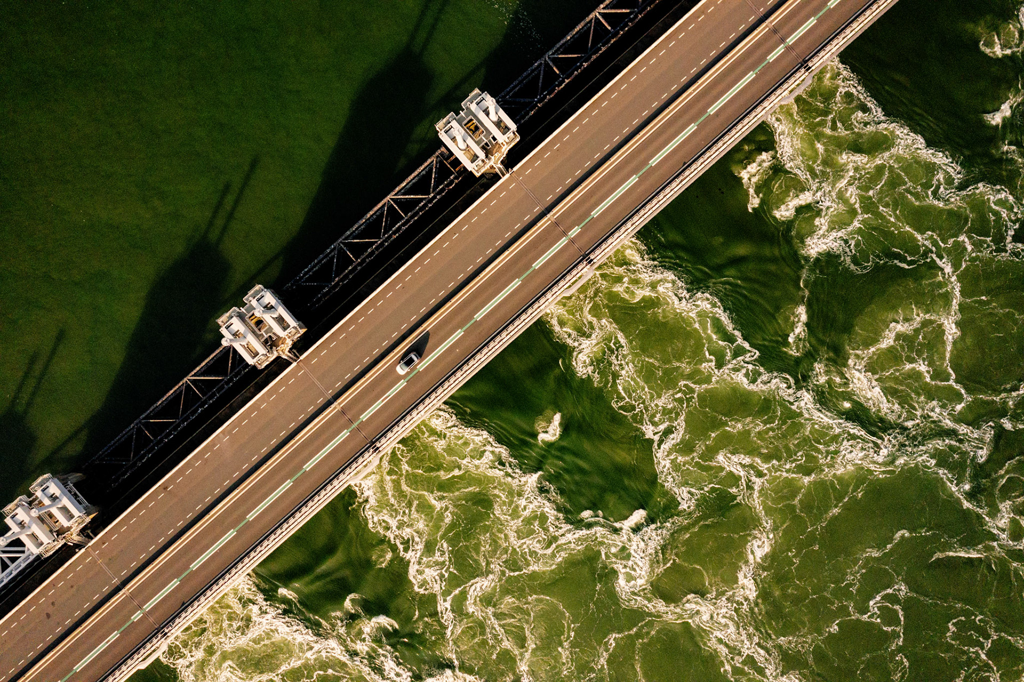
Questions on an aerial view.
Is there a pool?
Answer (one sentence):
No, this view has no pool in it.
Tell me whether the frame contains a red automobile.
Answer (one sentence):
No, no red automobile can be seen from above.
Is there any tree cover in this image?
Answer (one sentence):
No, there's no tree cover in this view.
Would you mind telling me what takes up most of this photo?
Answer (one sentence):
The largest share of the image is taken up by water.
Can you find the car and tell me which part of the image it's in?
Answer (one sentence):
The car appears toward the center of the photo.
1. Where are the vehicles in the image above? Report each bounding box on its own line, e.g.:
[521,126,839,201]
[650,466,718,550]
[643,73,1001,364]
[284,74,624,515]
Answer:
[397,351,421,375]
